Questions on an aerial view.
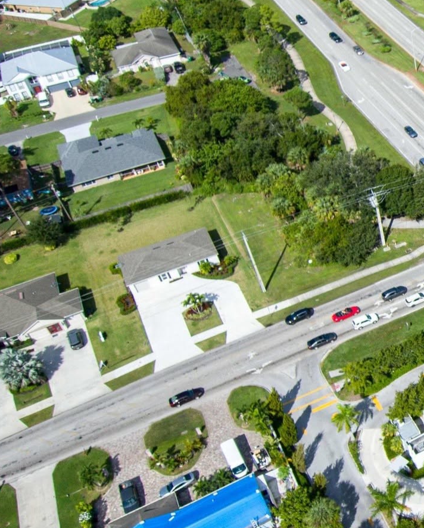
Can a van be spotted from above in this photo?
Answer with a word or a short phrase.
Yes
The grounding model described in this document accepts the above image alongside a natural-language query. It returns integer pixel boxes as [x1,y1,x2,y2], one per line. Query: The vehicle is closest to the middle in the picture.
[285,305,316,327]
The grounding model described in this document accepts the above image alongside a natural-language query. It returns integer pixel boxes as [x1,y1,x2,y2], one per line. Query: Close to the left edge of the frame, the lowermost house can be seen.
[0,269,87,347]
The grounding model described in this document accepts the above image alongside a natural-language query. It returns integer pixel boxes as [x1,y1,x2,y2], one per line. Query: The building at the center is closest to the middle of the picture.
[121,226,218,293]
